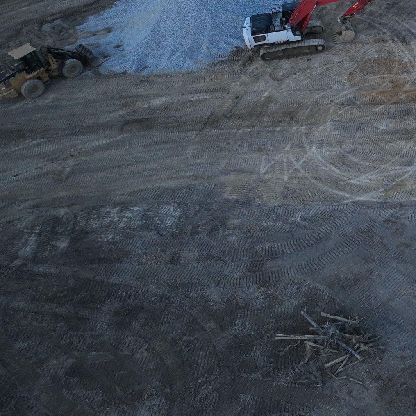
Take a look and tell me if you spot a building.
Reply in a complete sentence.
No, there isn't any building down there.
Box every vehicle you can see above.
[0,39,112,106]
[245,0,376,57]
